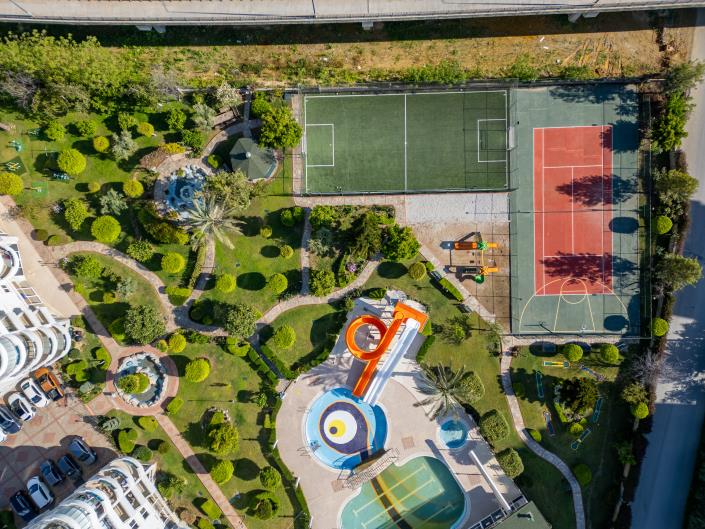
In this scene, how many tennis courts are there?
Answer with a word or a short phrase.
1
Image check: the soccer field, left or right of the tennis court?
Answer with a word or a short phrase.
left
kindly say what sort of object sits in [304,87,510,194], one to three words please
soccer field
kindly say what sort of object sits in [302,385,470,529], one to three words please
swimming pool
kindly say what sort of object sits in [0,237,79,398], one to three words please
building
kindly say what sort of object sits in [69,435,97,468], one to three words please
car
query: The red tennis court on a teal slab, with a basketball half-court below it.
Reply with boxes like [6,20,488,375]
[511,82,640,335]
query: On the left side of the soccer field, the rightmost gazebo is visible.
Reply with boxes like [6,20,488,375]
[228,134,282,188]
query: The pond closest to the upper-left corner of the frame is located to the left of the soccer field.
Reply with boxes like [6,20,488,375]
[161,166,211,214]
